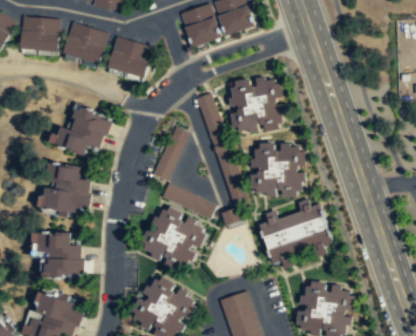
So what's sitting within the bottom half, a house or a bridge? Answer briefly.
house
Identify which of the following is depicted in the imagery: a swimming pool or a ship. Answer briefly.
swimming pool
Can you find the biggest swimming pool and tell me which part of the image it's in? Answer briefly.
bottom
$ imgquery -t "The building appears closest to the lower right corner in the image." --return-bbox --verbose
[296,281,354,336]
